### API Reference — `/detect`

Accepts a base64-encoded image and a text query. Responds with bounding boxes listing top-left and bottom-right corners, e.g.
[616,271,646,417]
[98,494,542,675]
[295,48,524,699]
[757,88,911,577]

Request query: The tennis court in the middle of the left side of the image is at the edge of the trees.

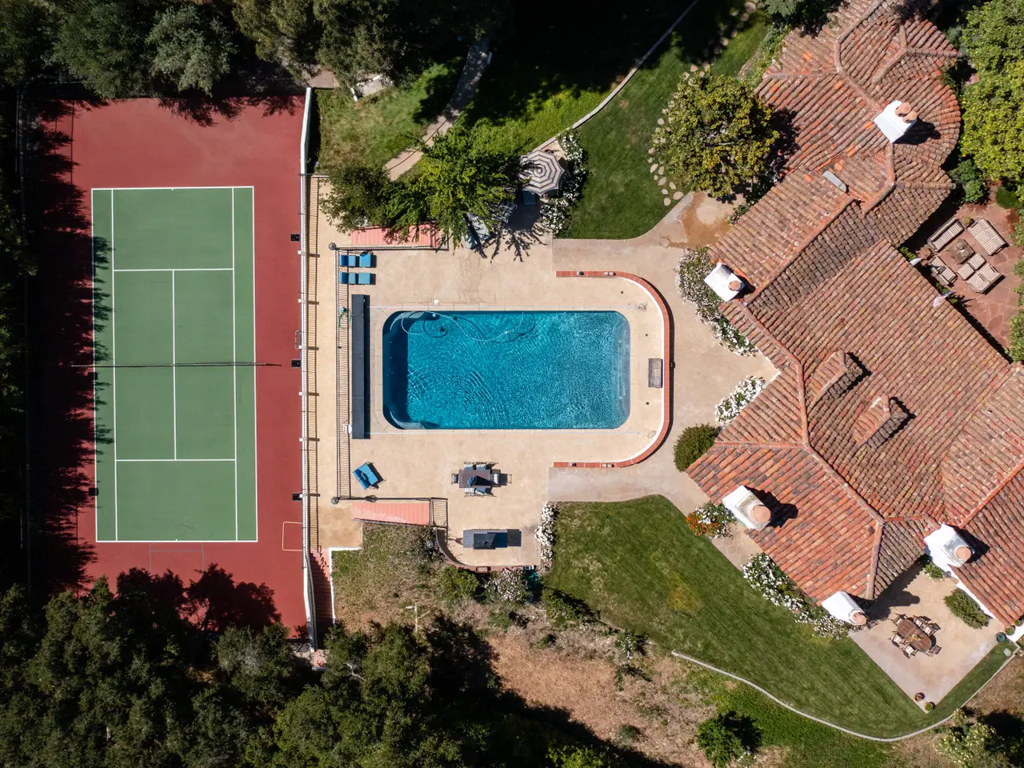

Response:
[38,92,319,635]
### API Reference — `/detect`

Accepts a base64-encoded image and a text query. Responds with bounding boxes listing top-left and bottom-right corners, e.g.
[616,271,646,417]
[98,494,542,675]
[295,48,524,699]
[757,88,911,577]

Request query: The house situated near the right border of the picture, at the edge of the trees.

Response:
[687,0,1024,629]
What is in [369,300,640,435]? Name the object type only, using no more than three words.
swimming pool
